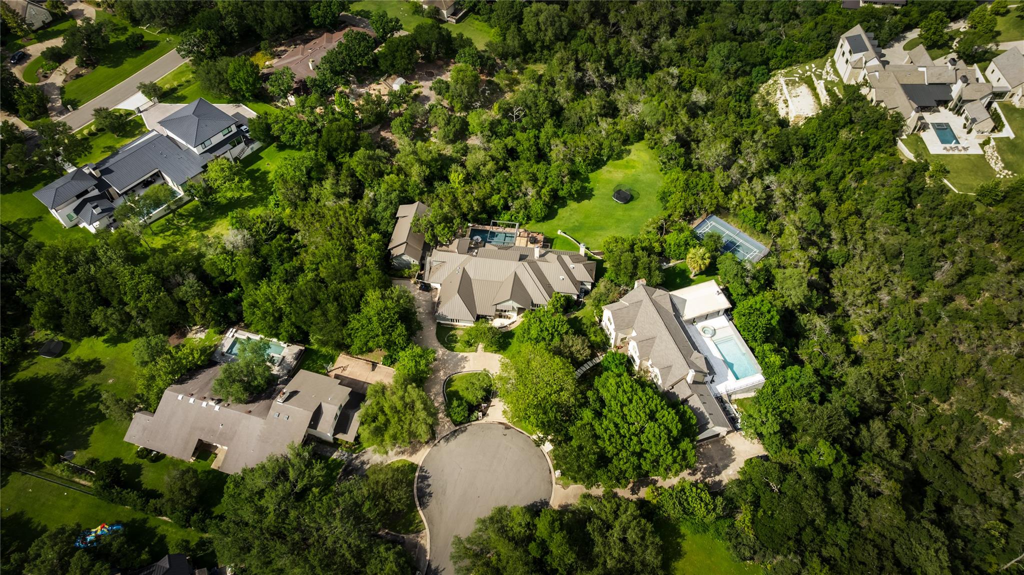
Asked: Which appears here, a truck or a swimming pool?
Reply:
swimming pool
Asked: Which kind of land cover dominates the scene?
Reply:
trees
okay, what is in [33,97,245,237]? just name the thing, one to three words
house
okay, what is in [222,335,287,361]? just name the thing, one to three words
swimming pool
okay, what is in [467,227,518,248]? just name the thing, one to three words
swimming pool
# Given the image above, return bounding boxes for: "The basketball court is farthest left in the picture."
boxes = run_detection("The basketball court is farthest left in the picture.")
[329,354,396,390]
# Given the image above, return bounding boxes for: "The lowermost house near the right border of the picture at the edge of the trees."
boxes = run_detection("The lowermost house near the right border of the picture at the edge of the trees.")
[833,24,1024,136]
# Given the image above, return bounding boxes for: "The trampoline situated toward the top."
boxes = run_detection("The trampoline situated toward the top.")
[612,184,632,202]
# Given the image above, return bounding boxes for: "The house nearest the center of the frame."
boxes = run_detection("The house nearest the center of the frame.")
[428,238,596,328]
